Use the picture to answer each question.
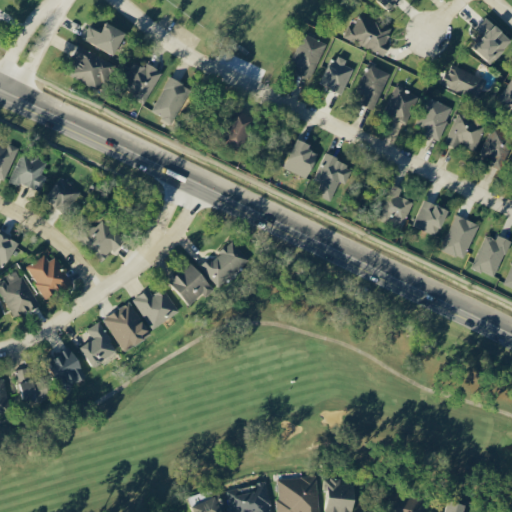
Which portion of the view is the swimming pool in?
top right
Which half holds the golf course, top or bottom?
bottom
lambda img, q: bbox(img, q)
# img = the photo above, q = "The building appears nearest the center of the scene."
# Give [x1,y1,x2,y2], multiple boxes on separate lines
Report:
[206,243,250,288]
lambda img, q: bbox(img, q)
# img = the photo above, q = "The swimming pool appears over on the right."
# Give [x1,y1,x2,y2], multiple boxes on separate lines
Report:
[474,66,494,90]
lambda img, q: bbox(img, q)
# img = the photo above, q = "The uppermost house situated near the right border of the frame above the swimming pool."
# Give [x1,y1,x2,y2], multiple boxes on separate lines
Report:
[470,17,512,64]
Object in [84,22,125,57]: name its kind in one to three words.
house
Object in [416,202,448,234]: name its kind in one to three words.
house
